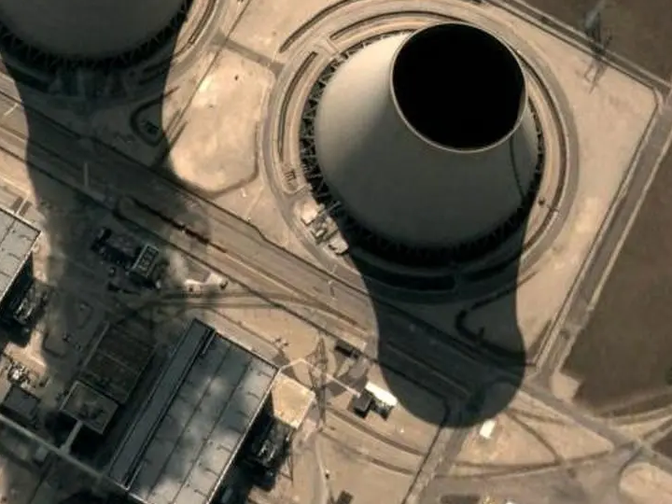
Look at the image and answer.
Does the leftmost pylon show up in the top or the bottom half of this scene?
bottom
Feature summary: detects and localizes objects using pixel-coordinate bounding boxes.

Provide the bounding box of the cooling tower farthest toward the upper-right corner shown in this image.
[299,21,544,268]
